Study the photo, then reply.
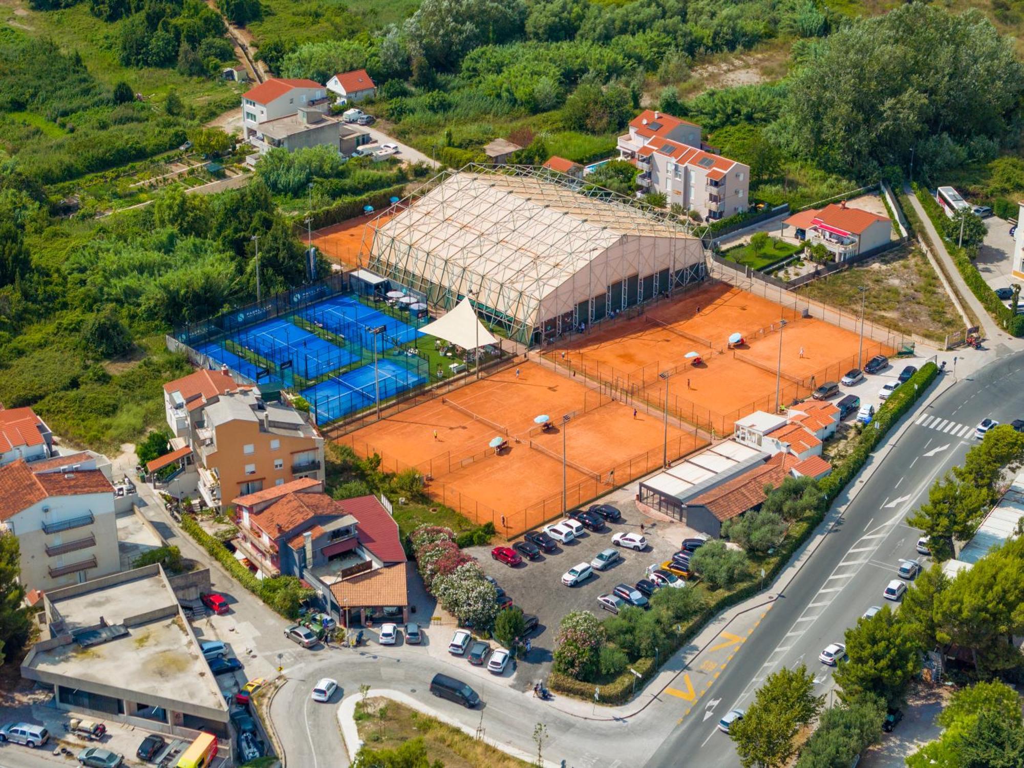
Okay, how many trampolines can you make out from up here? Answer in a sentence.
There are no trampolines in this view.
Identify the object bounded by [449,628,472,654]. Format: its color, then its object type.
white car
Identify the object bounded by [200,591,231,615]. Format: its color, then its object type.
red car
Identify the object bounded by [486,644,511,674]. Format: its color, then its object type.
white car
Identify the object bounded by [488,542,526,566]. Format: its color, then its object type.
red car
